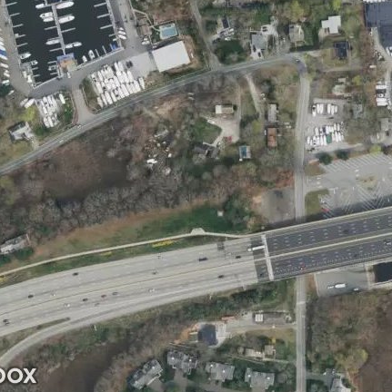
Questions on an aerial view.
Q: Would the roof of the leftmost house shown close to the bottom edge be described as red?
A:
No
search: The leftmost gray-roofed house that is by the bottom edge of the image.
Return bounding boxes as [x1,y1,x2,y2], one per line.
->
[131,360,163,390]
